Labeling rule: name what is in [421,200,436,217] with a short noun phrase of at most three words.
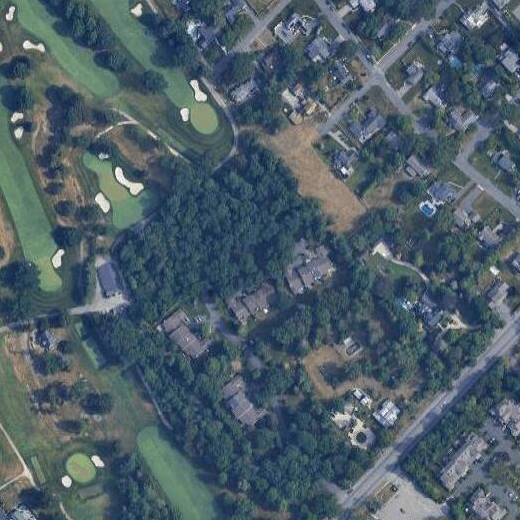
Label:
swimming pool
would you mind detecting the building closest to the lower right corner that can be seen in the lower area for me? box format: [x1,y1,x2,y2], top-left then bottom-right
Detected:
[474,490,510,520]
